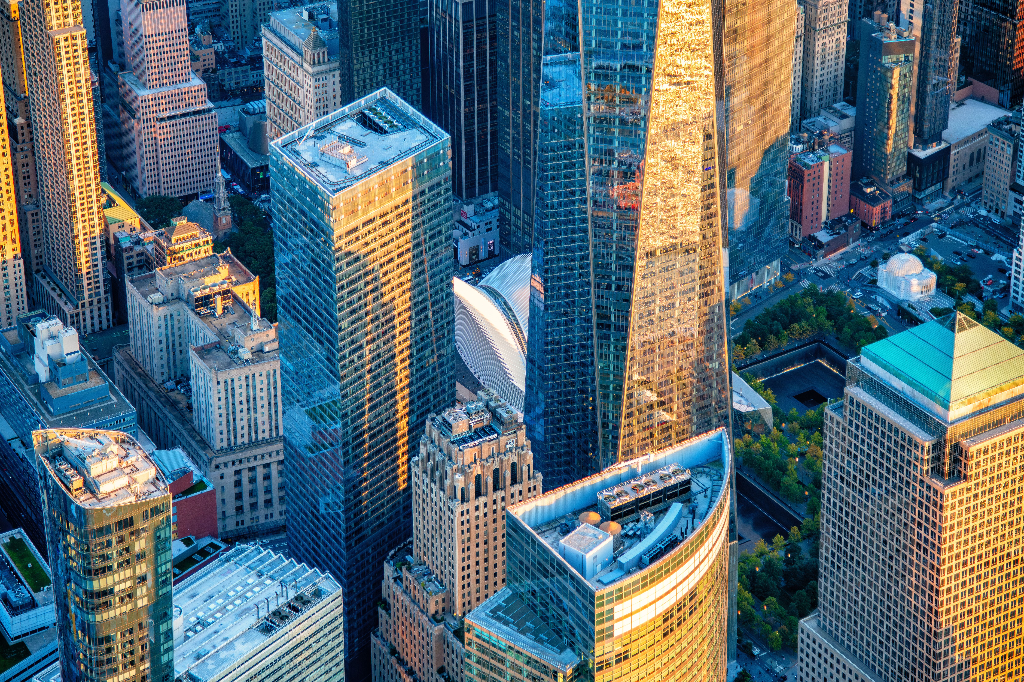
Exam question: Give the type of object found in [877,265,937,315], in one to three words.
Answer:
building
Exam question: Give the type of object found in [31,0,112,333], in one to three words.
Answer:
building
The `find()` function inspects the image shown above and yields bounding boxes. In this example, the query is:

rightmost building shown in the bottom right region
[791,318,1024,682]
